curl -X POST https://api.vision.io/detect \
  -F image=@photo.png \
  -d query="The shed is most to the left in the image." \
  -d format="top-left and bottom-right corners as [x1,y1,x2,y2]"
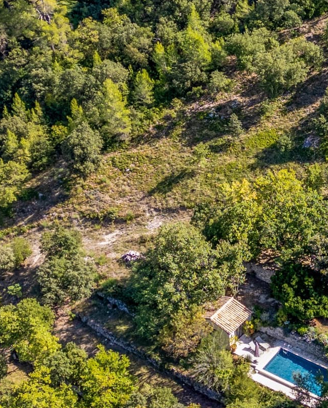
[197,298,253,352]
